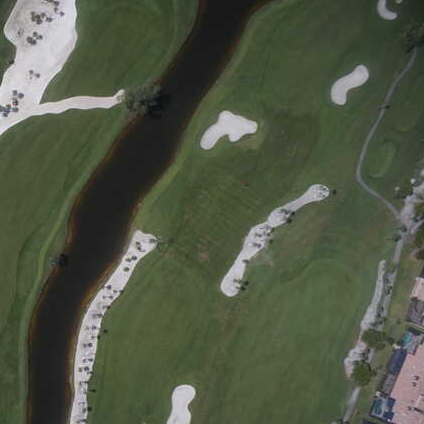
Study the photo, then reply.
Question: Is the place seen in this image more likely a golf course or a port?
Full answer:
The picture captures a golf course.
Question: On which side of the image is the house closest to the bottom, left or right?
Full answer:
The house closest to the bottom sits on the right side.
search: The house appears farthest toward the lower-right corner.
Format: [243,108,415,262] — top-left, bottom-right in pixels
[378,330,424,424]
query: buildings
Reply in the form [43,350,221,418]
[378,330,424,424]
[404,262,424,328]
